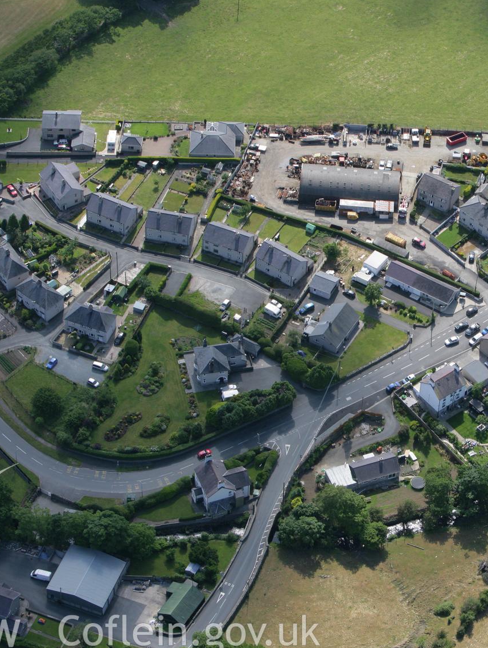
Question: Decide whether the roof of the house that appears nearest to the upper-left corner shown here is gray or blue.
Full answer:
From above, the roof of the house that appears nearest to the upper-left corner appears gray.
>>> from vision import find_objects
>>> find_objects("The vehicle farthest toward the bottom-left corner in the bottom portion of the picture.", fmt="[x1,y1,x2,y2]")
[30,566,52,581]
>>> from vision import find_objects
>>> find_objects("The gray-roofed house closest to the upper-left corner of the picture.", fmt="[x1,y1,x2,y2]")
[42,110,82,140]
